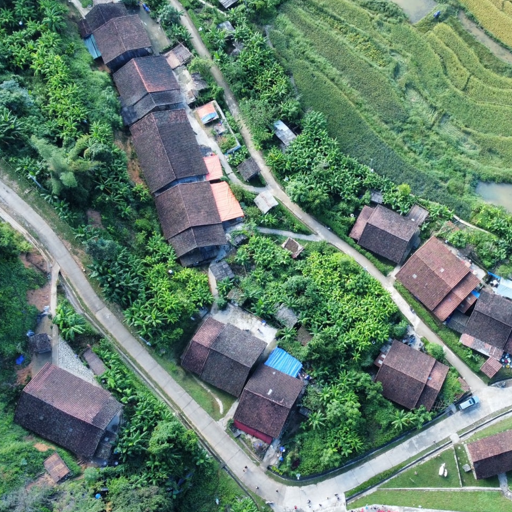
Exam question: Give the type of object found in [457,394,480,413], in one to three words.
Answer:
car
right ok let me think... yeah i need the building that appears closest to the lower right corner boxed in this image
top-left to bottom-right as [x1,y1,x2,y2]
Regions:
[466,430,512,481]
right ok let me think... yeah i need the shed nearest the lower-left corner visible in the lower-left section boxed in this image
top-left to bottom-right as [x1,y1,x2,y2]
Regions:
[45,454,70,482]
